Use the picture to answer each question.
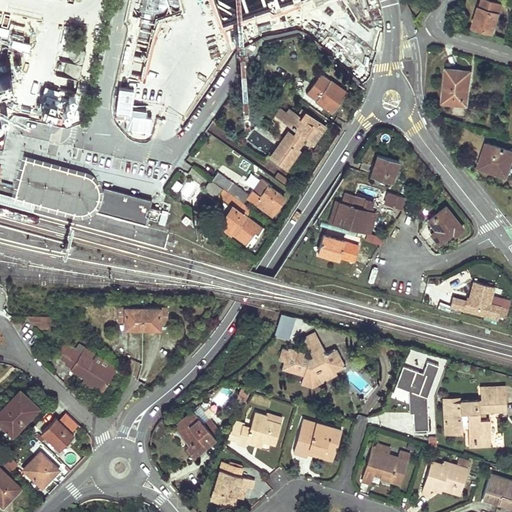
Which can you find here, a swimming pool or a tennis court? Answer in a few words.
swimming pool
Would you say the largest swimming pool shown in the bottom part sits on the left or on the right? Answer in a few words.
right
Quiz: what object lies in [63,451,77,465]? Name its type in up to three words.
swimming pool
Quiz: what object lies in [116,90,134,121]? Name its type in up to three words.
building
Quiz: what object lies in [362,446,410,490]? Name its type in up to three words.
house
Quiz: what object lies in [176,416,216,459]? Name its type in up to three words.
house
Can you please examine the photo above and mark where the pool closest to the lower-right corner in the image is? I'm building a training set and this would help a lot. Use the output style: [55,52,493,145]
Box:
[347,370,370,392]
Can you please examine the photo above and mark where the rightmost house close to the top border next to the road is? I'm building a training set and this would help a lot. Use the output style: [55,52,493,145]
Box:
[472,0,504,36]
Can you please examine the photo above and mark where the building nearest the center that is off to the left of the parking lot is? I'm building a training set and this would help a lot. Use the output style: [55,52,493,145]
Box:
[223,208,263,247]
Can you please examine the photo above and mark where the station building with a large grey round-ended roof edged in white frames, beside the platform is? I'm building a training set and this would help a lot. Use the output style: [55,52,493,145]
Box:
[12,153,102,221]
